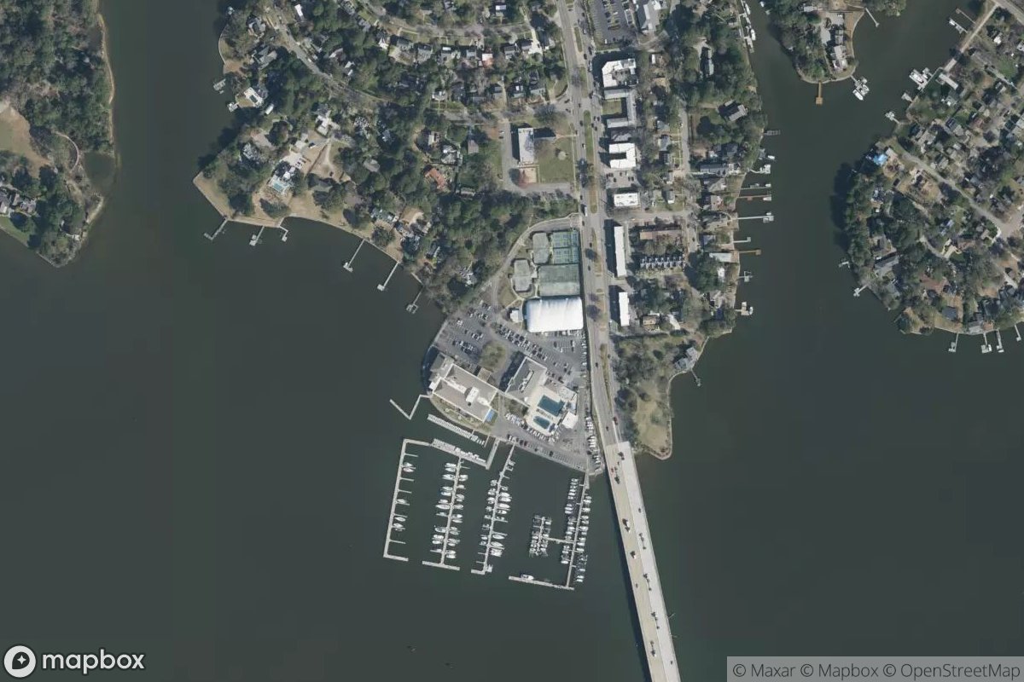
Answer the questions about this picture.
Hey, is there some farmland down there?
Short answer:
No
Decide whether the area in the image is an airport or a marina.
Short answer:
marina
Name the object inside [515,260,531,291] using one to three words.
tennis court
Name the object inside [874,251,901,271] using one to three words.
house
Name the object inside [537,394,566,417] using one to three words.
swimming pool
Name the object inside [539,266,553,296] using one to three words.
tennis court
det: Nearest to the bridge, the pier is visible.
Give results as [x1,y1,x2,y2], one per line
[567,471,589,588]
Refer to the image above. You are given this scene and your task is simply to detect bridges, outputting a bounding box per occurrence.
[605,444,679,682]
